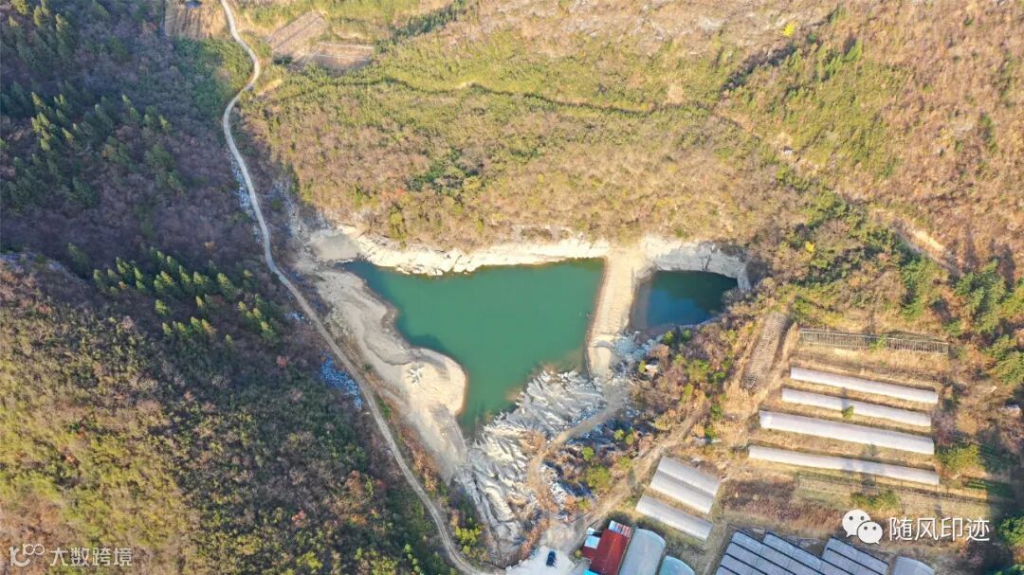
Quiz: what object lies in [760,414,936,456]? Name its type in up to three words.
greenhouse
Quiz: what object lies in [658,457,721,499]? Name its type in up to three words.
greenhouse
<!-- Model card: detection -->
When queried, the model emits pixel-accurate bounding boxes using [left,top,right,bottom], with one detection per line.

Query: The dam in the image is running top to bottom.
[589,237,644,376]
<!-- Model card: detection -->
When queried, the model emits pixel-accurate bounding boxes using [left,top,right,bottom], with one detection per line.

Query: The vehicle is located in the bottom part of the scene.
[546,550,558,568]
